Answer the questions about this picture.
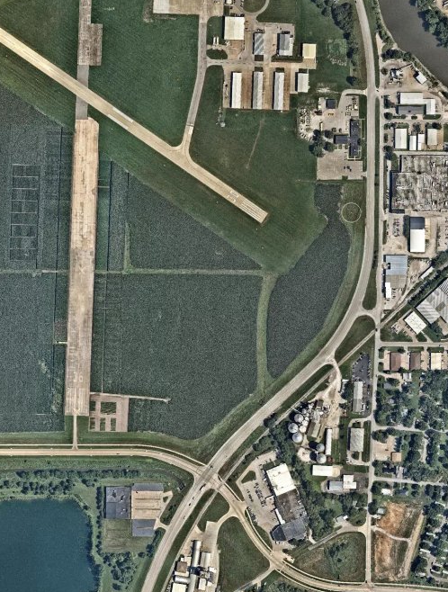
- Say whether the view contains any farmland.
Yes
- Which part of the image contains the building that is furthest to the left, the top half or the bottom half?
bottom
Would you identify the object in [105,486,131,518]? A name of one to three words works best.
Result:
building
